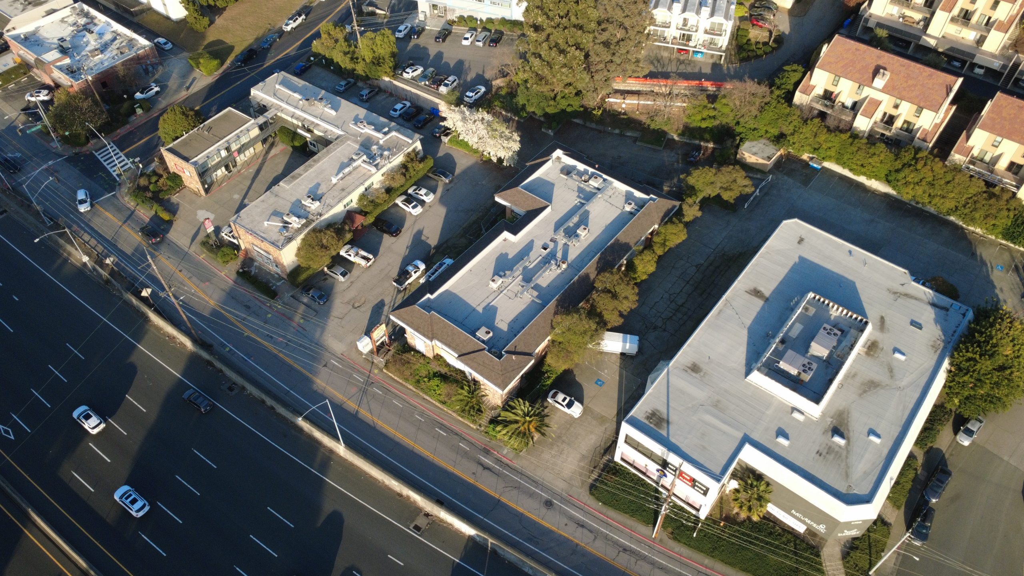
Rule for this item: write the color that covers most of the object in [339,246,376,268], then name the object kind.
white truck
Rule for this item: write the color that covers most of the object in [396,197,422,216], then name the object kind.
white car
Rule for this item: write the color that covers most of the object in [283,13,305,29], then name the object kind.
white vehicle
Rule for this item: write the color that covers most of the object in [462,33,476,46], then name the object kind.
white vehicle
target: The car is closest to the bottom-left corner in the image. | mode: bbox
[117,483,148,521]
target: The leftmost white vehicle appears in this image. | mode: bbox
[25,86,54,104]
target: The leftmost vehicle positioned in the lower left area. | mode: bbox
[75,403,104,437]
